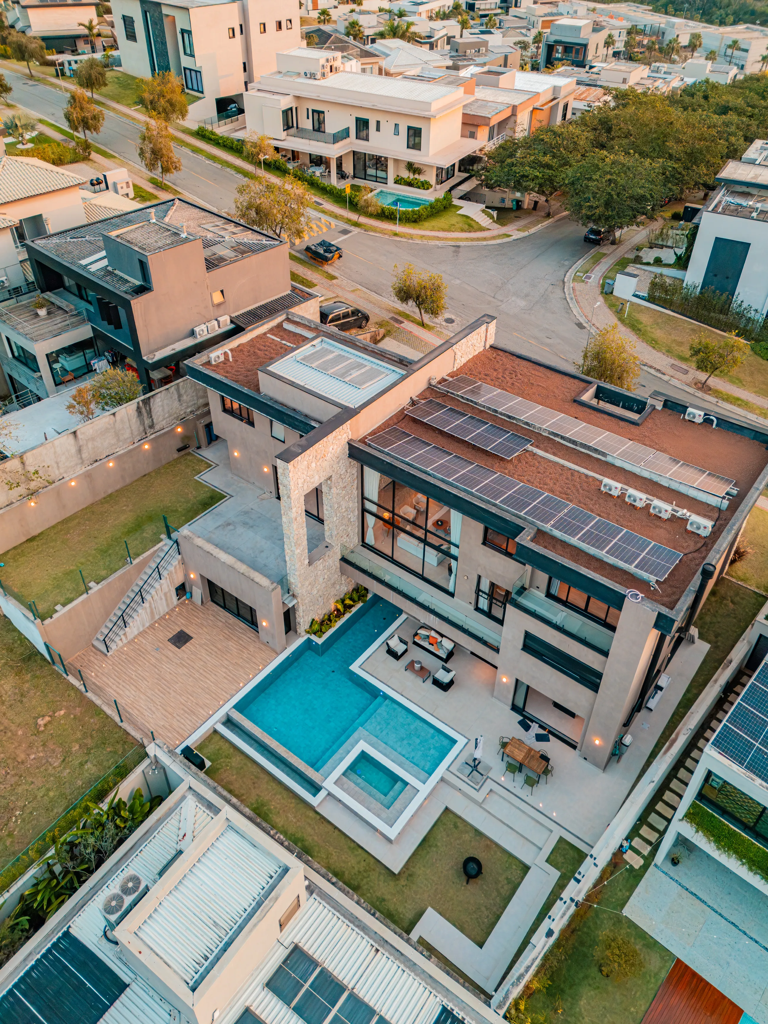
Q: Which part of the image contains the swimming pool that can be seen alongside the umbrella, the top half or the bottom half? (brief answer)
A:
bottom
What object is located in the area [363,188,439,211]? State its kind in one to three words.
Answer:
swimming pool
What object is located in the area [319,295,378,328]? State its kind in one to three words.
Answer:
car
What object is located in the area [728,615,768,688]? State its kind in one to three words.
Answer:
shed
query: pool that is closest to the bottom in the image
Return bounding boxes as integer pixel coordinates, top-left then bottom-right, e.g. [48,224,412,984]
[176,589,472,848]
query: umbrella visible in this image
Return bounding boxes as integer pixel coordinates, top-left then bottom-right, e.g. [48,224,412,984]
[459,736,488,784]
